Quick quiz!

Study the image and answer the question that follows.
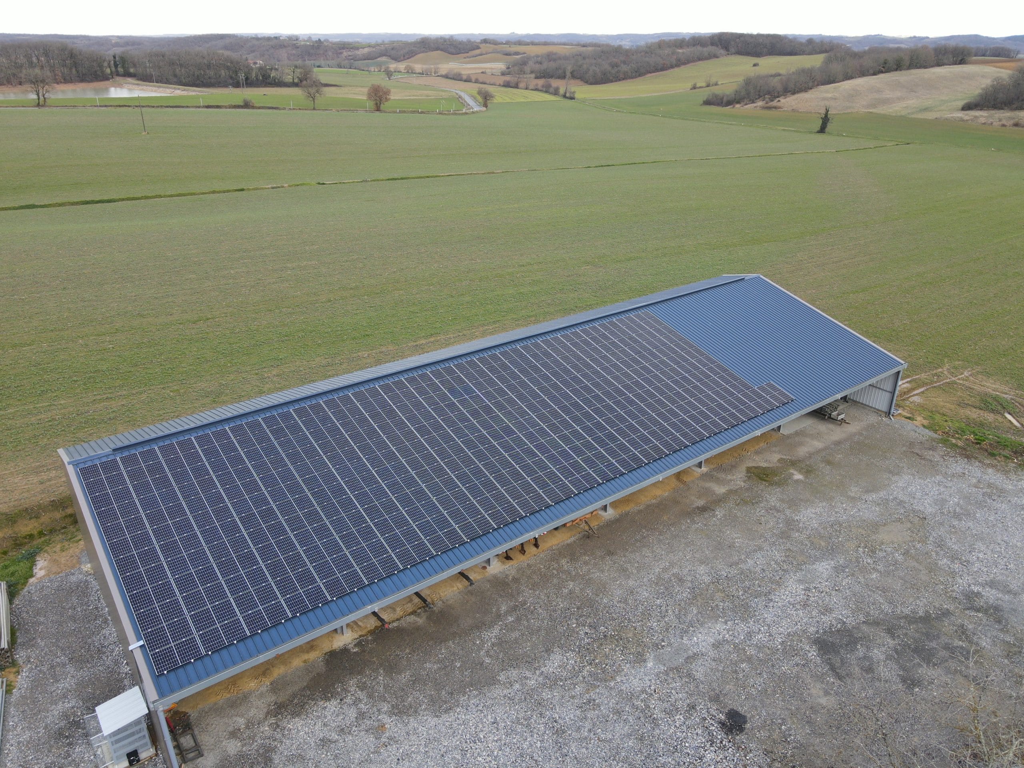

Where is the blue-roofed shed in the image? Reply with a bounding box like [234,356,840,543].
[56,274,910,768]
